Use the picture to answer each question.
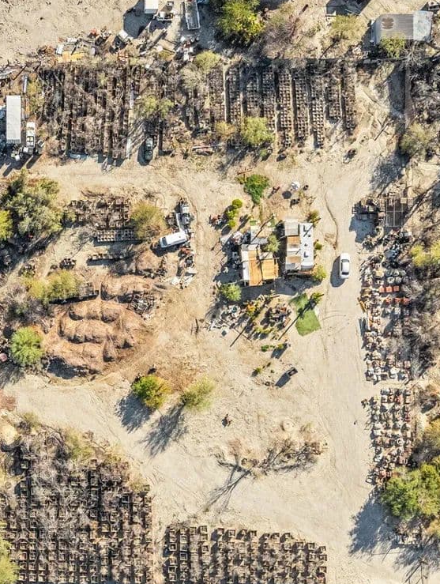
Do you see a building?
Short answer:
Yes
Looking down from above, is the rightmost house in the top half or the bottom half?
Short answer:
top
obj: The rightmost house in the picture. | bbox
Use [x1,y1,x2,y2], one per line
[368,10,436,46]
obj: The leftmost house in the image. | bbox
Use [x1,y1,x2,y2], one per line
[237,226,276,287]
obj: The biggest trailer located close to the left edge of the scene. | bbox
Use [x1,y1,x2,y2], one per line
[6,93,21,148]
